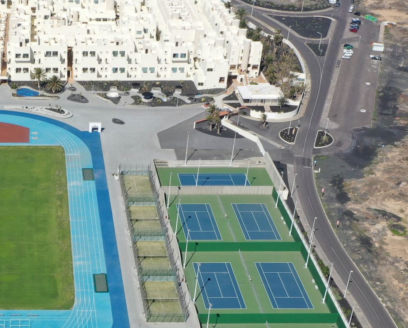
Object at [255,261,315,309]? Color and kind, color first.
blue tennis court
